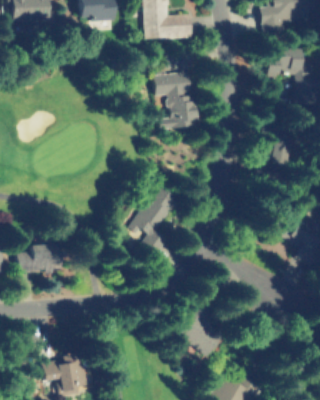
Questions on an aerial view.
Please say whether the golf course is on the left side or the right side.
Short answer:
left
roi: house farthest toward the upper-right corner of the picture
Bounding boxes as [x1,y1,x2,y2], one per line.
[261,0,298,27]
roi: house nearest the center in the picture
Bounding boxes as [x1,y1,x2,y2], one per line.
[124,183,175,254]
